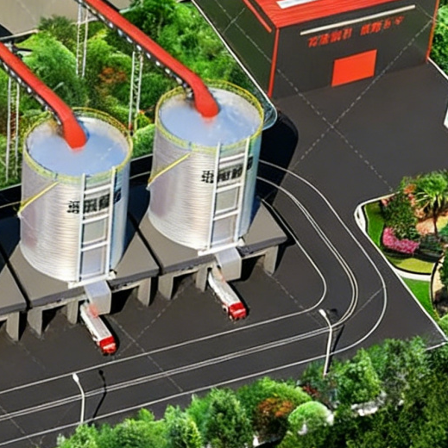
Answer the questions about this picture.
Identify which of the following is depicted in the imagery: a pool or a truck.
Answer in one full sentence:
I can see a truck in this picture.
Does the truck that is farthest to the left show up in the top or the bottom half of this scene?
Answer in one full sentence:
The truck that is farthest to the left sits in the bottom half of the picture.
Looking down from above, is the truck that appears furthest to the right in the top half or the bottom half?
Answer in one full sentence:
The truck that appears furthest to the right is in the bottom half of the image.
